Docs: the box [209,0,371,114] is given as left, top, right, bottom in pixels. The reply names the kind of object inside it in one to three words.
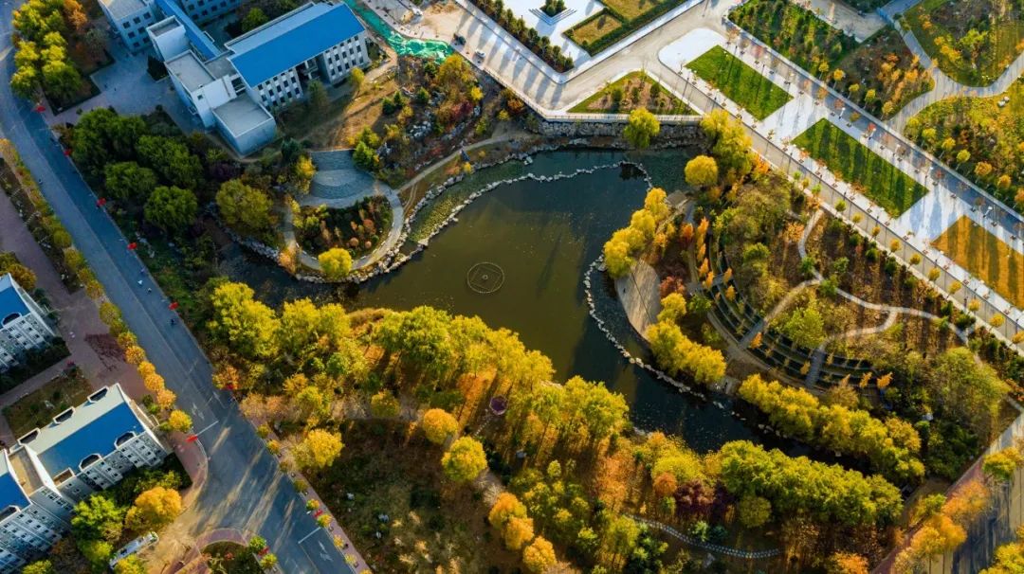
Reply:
building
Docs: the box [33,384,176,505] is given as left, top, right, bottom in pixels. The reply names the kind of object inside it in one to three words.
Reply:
building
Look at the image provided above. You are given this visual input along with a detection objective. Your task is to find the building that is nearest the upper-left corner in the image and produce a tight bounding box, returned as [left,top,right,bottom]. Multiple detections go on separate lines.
[82,0,156,49]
